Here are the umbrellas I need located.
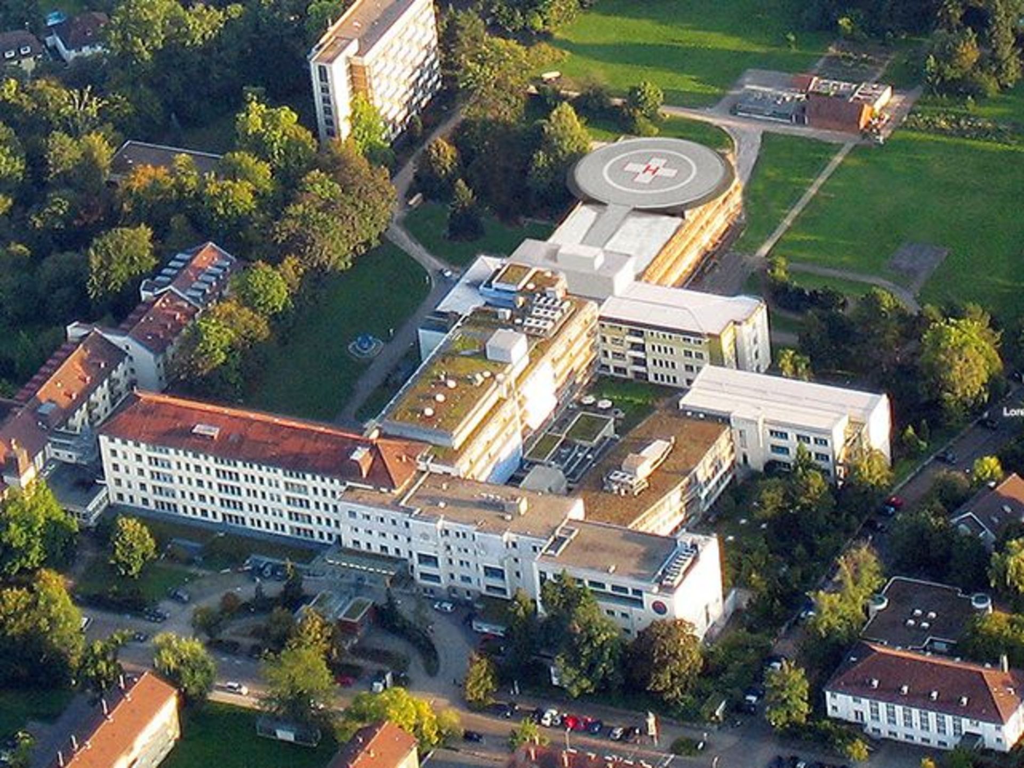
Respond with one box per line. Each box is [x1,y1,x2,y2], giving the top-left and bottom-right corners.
[596,400,614,415]
[579,396,597,412]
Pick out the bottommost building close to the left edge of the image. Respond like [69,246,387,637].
[46,664,183,768]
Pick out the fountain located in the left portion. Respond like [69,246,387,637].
[348,336,383,355]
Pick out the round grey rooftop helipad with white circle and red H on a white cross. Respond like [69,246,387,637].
[568,137,734,248]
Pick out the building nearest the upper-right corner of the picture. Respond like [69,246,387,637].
[805,77,895,145]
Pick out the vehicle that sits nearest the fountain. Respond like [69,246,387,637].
[436,266,458,280]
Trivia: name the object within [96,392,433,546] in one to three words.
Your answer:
building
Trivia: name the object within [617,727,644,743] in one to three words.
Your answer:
car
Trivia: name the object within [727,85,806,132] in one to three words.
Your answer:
greenhouse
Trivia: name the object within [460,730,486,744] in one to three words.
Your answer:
car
